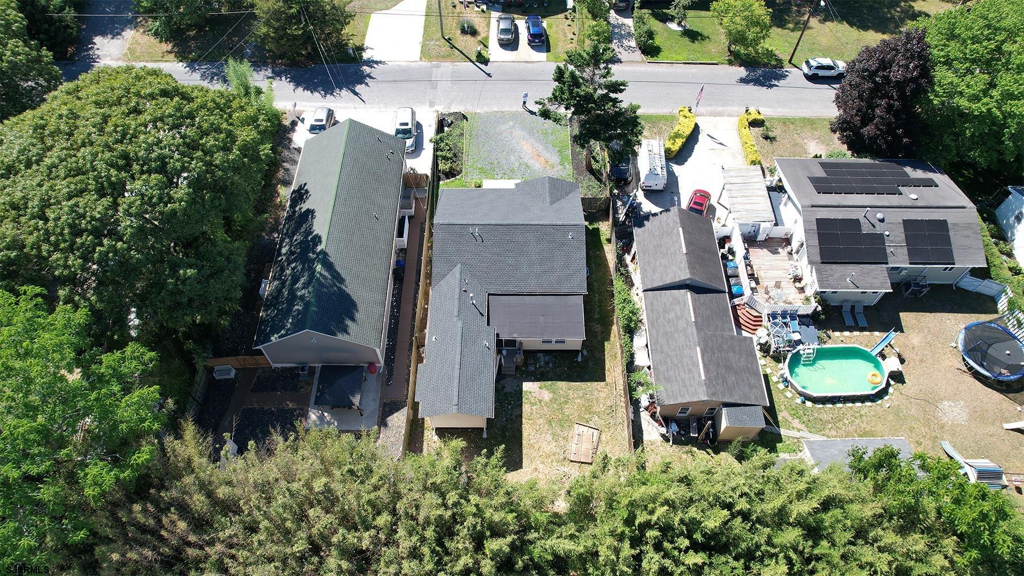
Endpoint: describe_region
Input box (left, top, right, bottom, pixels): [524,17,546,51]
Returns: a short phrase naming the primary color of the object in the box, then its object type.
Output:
blue car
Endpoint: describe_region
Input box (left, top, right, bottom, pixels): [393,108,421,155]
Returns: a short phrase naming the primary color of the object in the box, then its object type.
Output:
white car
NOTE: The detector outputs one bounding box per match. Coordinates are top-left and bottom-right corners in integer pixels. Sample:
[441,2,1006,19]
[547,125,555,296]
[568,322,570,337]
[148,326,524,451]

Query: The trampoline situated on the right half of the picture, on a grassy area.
[952,304,1024,387]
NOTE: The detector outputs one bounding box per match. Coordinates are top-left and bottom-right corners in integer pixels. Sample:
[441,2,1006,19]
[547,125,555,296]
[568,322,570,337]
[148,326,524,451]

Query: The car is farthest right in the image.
[797,57,850,84]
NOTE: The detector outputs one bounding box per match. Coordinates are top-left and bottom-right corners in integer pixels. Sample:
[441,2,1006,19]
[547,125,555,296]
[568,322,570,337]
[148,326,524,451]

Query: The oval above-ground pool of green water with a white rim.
[783,345,889,403]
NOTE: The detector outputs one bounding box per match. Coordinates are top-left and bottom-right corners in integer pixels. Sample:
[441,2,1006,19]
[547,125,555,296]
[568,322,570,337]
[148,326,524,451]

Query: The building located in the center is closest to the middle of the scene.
[415,172,587,429]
